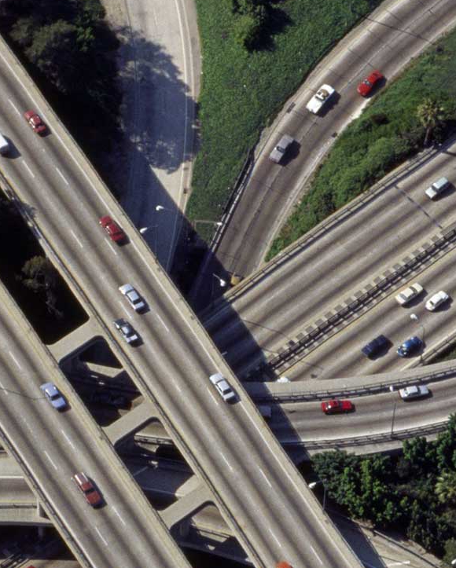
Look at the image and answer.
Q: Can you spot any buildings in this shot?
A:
No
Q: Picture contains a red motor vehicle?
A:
Yes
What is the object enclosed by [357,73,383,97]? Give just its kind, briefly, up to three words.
car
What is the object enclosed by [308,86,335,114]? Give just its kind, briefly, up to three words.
car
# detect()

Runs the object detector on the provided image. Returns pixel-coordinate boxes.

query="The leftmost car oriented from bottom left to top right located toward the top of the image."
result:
[270,137,293,163]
